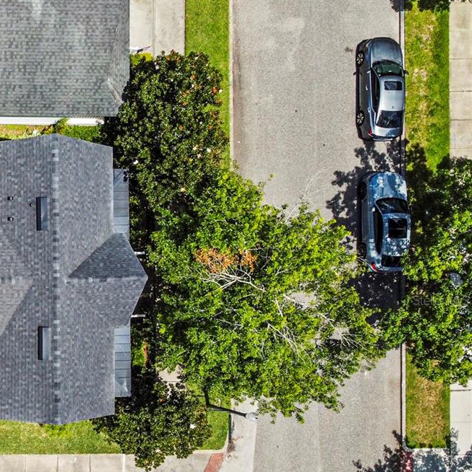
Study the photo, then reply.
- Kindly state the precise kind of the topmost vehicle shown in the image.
car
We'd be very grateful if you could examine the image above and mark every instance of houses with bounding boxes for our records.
[0,133,148,425]
[0,0,130,125]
